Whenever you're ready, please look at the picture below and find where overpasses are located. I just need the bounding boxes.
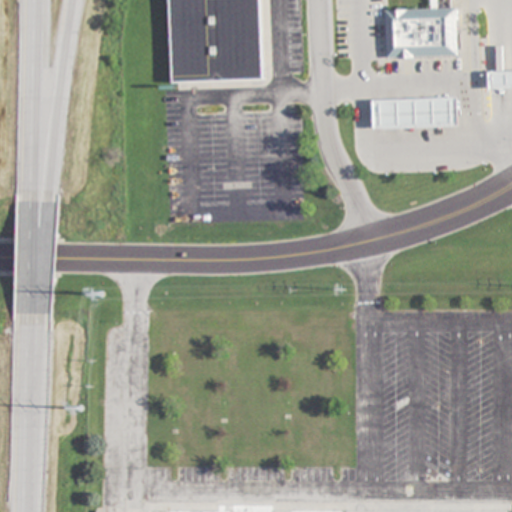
[12,190,60,326]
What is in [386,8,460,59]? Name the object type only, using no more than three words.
building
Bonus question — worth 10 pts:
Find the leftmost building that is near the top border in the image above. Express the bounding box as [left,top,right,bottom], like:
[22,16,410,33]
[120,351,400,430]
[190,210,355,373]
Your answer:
[168,0,266,83]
